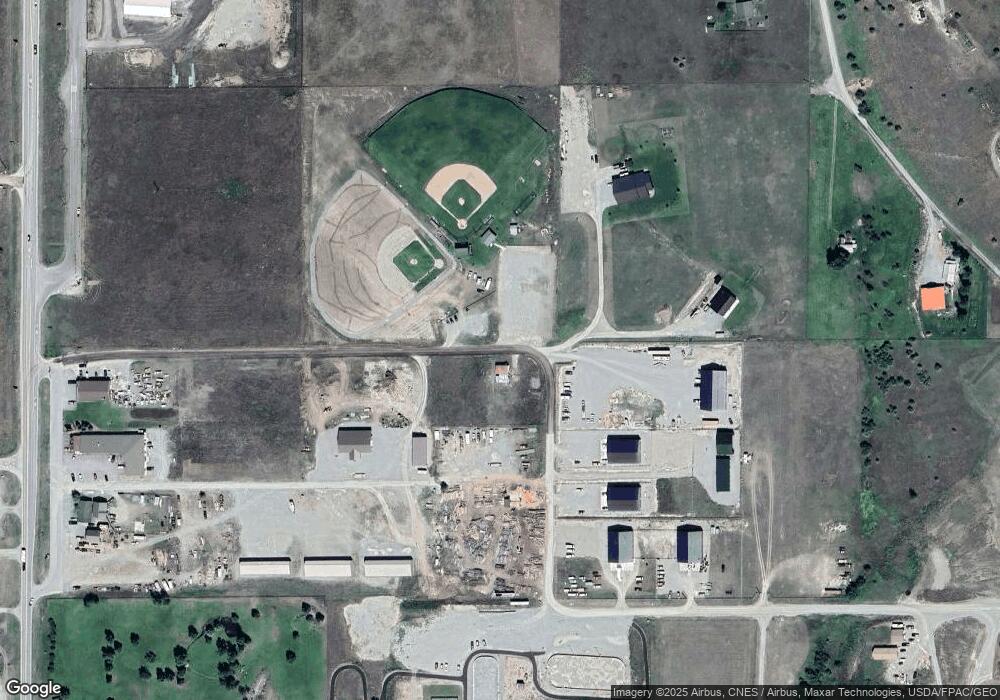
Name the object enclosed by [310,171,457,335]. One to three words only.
baseball field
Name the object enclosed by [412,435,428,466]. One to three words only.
shed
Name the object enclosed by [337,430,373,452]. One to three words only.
building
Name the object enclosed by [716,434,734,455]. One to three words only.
barn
